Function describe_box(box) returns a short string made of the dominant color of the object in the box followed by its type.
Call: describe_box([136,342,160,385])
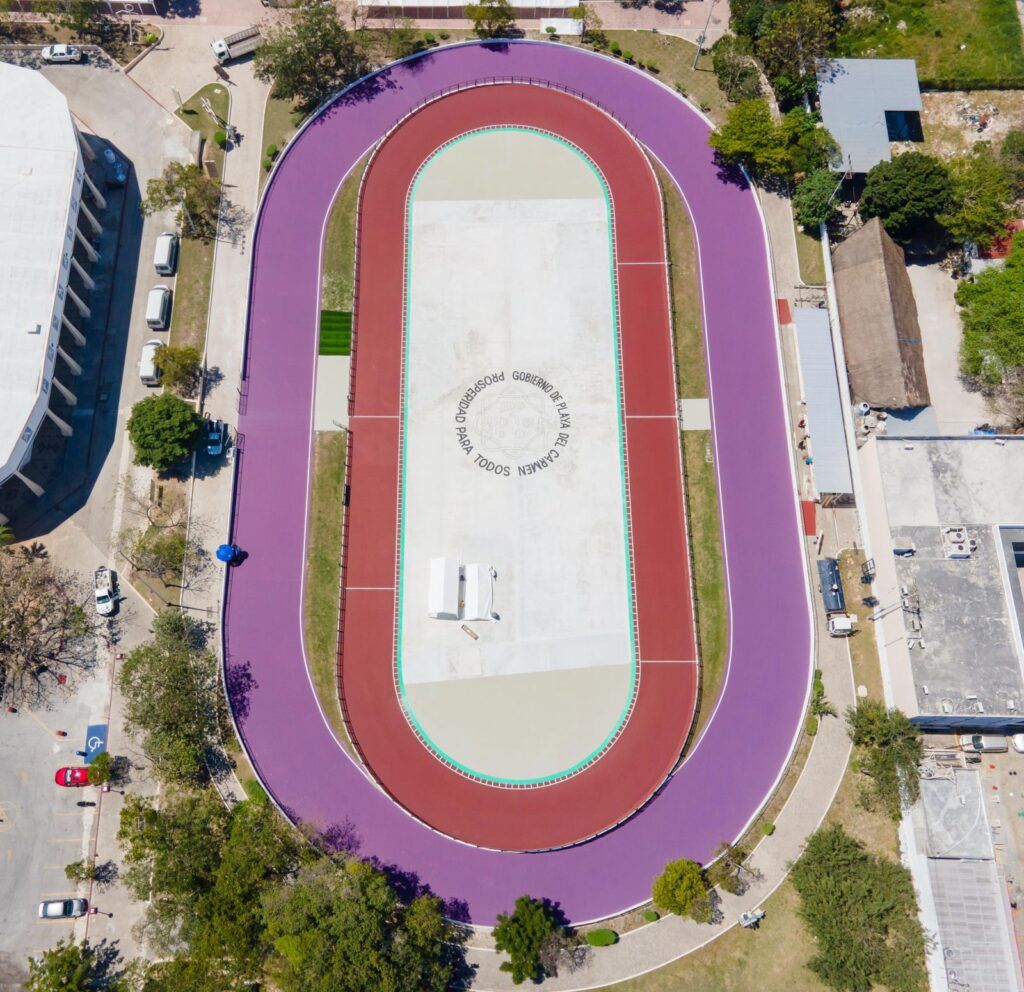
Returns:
white vehicle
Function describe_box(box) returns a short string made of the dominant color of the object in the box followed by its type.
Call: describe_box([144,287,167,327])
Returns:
white vehicle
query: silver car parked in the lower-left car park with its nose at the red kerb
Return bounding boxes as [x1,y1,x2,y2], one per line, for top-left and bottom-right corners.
[33,897,86,923]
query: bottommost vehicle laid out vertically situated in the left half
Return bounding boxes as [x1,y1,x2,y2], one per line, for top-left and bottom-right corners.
[89,565,115,617]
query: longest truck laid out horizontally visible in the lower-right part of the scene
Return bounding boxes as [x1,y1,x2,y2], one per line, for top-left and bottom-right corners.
[959,732,1014,755]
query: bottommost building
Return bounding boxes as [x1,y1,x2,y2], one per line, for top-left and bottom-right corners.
[904,768,1024,992]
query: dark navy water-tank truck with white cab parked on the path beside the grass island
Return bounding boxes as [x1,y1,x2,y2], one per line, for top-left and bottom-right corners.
[816,558,857,635]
